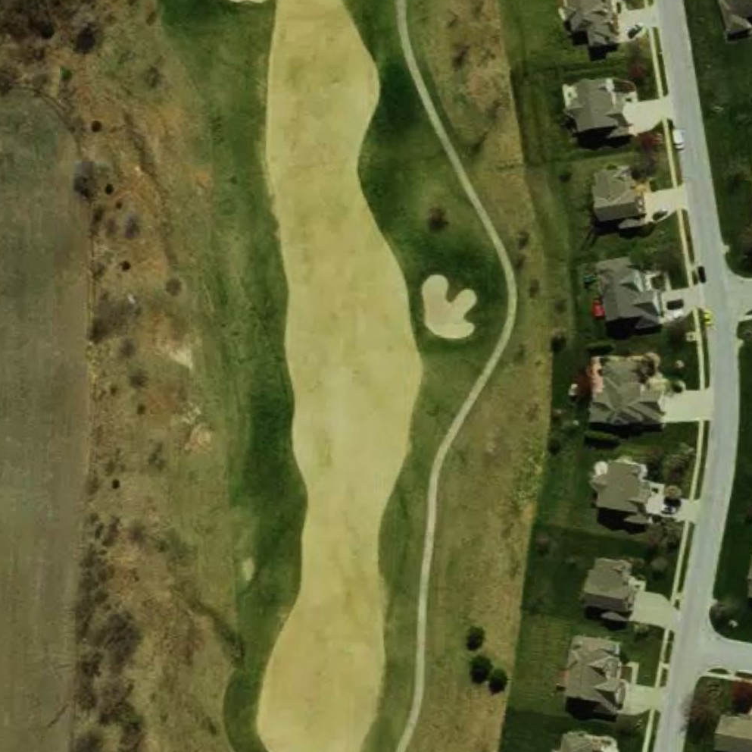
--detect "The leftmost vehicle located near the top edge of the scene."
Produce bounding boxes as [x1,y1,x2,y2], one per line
[626,24,643,38]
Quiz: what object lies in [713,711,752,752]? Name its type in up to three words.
house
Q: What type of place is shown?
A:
golf course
